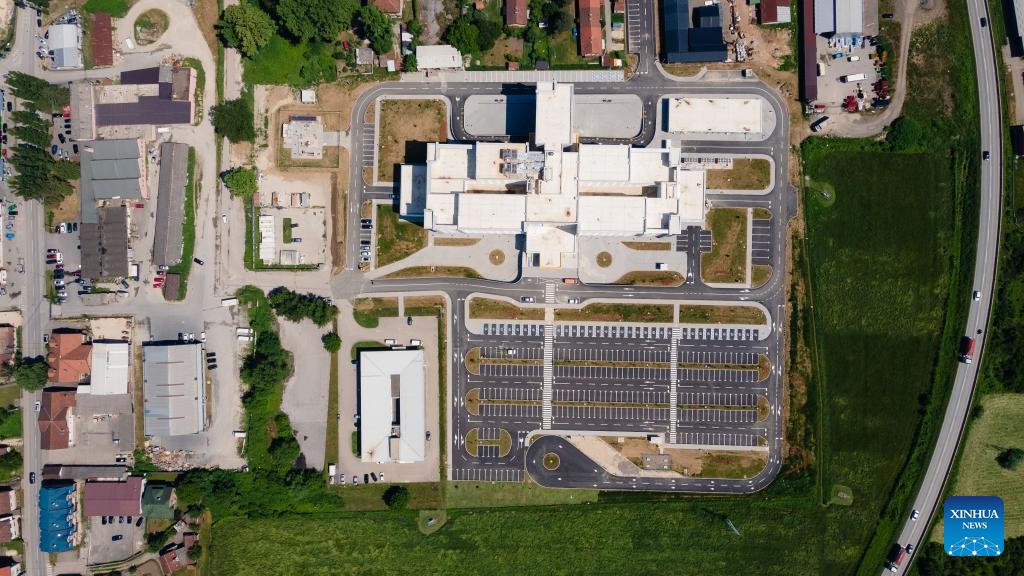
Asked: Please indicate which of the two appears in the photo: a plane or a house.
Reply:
house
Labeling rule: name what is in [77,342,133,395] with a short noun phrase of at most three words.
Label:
building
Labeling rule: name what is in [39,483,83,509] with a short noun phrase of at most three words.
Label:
house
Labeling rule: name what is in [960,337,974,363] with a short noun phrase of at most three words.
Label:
vehicle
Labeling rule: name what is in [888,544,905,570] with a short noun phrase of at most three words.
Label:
vehicle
